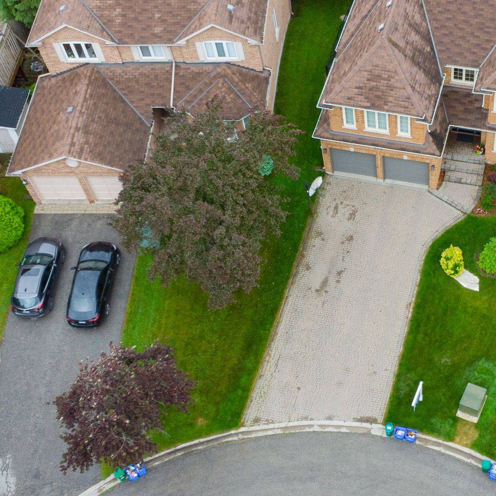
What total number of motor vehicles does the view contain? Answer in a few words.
two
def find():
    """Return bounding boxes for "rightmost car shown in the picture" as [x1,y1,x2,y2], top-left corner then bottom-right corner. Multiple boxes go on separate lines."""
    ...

[62,245,118,331]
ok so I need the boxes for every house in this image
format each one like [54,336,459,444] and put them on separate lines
[5,0,286,208]
[311,0,496,192]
